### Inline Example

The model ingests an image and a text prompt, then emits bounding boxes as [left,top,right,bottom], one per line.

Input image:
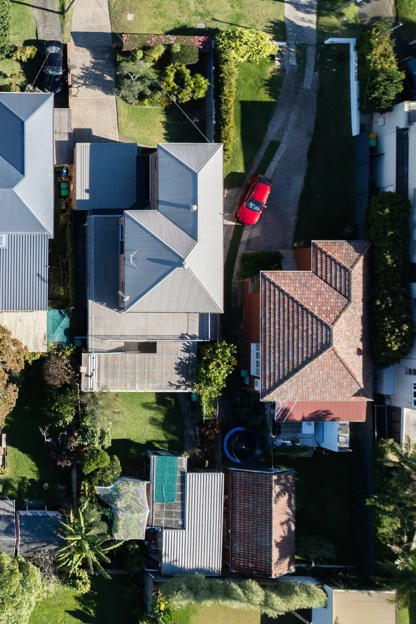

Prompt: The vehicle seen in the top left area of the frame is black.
[41,39,67,93]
